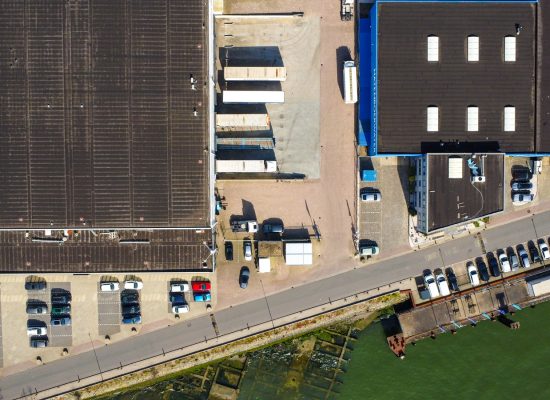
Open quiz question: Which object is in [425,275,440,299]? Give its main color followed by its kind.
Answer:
white car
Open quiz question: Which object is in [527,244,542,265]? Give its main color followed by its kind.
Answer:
black car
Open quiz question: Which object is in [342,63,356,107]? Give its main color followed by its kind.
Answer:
white vehicle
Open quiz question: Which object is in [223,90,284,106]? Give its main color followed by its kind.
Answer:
white trailer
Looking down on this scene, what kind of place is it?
industrial area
